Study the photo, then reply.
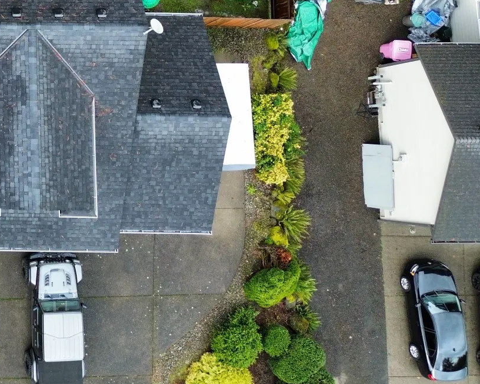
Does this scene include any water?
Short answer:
No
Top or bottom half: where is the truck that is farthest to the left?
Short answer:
bottom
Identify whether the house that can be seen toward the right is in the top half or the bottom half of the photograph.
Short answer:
top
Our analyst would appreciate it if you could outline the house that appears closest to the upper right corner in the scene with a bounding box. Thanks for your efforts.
[372,0,480,246]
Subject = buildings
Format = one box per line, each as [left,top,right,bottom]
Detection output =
[0,0,231,253]
[372,0,480,246]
